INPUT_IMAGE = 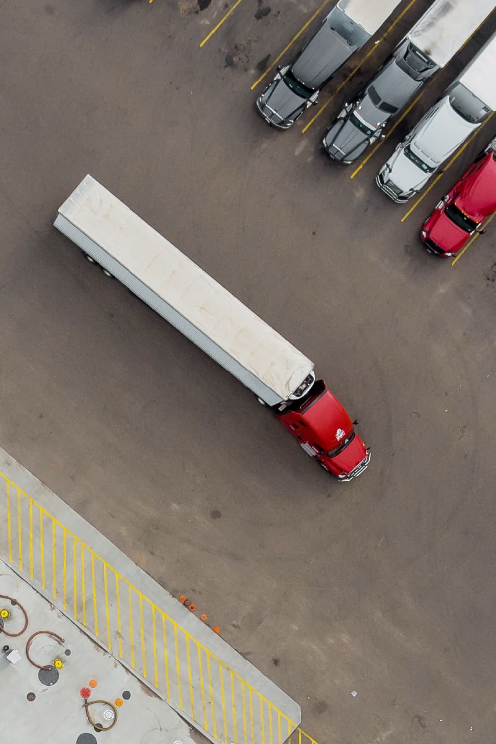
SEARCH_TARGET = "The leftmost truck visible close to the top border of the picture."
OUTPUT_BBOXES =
[259,20,361,131]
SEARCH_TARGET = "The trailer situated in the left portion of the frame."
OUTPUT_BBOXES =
[51,174,314,407]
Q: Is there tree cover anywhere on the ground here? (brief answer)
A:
No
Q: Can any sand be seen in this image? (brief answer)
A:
No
